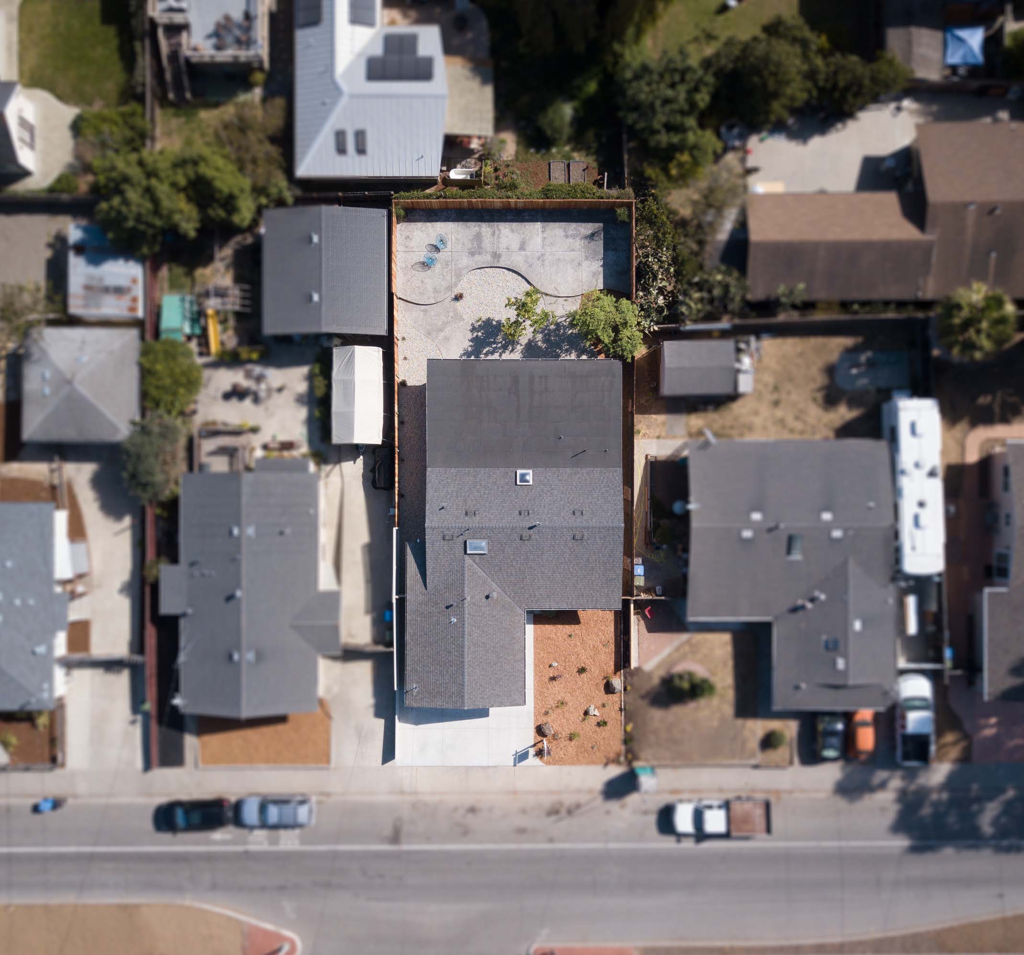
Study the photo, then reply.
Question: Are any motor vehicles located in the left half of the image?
Yes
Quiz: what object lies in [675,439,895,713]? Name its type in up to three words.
house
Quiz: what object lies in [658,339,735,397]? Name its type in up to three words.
shed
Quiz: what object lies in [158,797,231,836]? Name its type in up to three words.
car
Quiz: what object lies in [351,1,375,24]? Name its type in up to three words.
solar panel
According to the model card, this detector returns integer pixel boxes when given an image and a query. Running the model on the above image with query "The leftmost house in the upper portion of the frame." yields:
[0,85,36,174]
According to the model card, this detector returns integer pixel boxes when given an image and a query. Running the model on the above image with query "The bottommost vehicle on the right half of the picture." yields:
[674,797,768,837]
